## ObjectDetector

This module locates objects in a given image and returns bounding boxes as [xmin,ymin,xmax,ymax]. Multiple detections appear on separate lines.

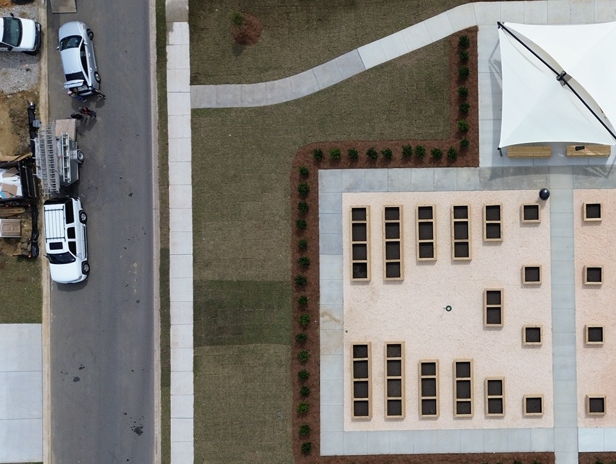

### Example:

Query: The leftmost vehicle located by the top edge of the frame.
[0,12,44,56]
